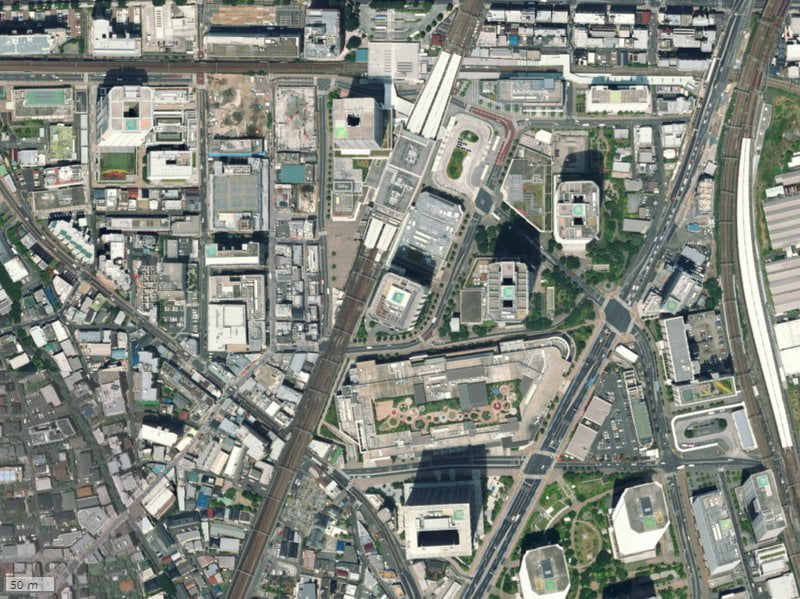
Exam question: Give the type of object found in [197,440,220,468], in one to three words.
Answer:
house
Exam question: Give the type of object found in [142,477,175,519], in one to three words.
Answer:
shed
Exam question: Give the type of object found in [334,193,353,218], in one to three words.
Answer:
building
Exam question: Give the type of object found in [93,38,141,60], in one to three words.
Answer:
building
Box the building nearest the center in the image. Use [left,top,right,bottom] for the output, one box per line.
[366,272,427,339]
